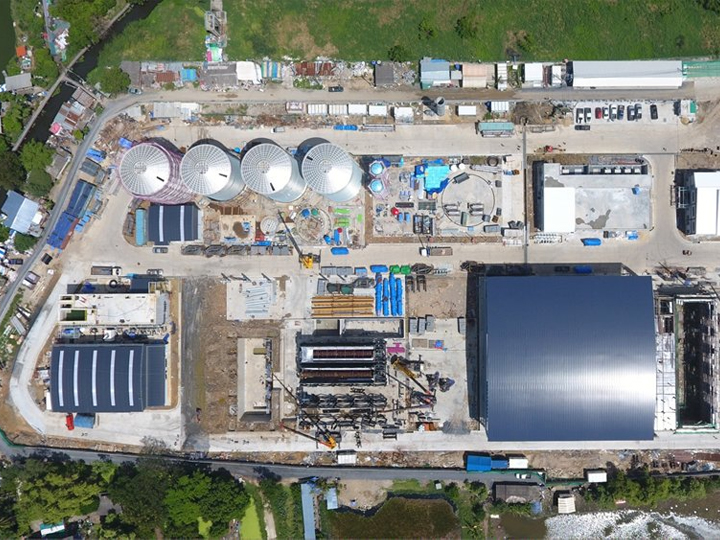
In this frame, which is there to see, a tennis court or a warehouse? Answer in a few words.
warehouse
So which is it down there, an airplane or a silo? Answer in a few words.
silo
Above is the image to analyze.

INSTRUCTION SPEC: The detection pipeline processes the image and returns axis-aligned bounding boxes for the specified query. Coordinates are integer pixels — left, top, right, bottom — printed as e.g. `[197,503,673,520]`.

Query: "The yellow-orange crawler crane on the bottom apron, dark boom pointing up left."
[274,371,336,454]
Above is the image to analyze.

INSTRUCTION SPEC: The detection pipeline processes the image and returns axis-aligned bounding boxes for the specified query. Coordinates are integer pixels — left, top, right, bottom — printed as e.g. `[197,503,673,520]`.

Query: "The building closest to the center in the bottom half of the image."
[296,333,390,386]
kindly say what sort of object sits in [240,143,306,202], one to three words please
silo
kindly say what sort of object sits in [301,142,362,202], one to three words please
silo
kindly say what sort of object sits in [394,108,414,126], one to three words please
building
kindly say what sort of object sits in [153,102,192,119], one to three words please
shed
